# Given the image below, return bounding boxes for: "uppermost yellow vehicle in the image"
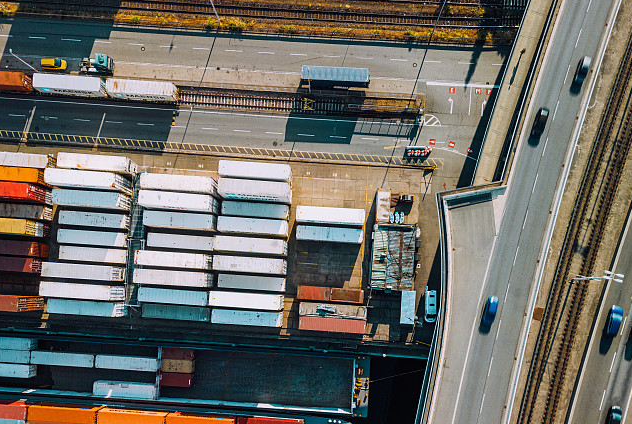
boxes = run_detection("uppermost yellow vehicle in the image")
[40,57,67,70]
